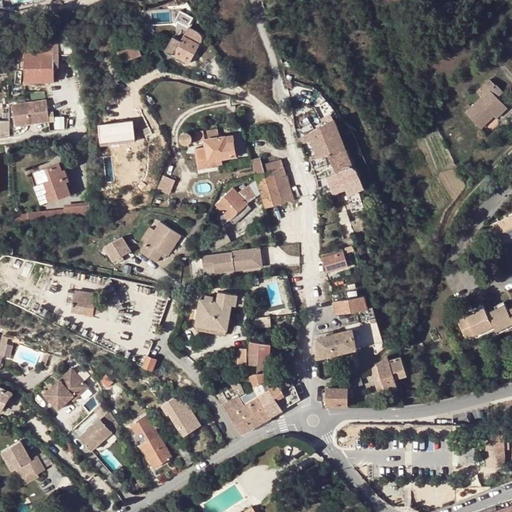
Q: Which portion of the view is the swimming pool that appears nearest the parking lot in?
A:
bottom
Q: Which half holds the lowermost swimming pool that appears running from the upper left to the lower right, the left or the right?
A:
left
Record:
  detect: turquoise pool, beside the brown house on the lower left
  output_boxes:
[98,447,124,472]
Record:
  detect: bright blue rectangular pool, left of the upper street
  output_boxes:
[258,276,292,316]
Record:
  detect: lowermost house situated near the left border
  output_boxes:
[0,442,44,486]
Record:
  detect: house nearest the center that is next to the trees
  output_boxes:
[232,248,264,272]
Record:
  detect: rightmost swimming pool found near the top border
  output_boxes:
[147,9,176,26]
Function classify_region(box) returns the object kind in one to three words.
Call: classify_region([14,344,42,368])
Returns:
swimming pool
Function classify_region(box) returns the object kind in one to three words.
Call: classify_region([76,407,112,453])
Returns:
house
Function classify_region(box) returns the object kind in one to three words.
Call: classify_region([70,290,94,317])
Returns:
building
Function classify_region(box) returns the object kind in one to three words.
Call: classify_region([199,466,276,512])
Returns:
swimming pool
